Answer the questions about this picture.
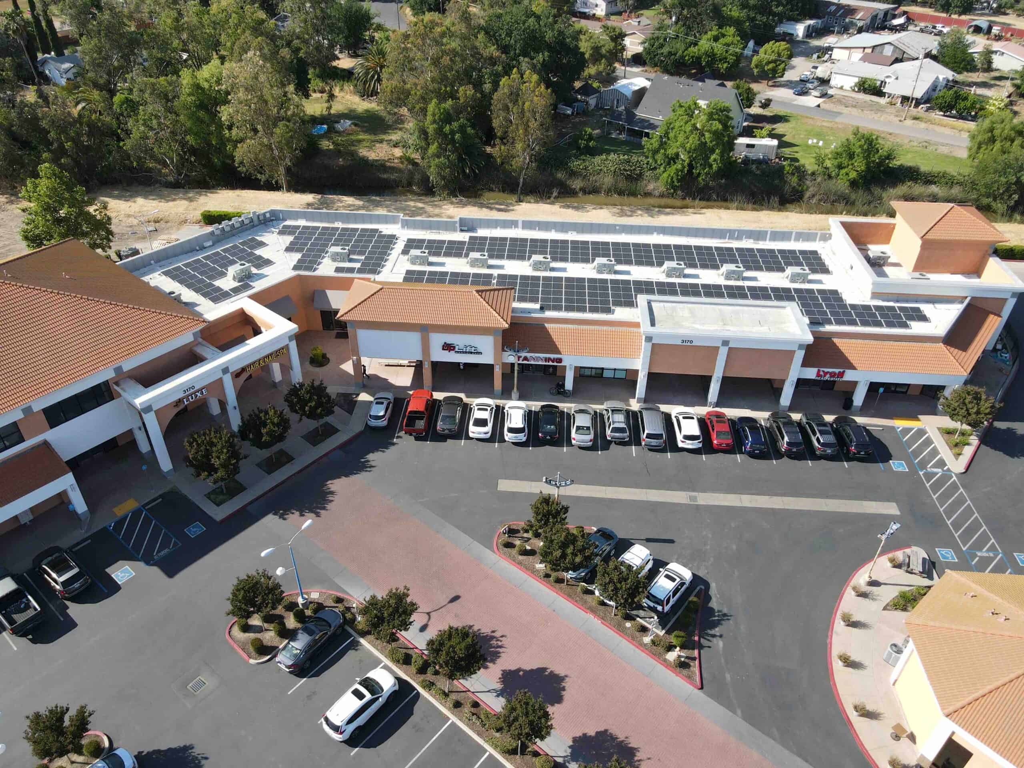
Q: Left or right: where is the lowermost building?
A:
right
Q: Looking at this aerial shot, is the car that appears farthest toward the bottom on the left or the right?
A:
left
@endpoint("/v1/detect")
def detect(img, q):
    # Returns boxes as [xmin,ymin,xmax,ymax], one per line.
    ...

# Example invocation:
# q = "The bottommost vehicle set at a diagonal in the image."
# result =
[320,670,403,748]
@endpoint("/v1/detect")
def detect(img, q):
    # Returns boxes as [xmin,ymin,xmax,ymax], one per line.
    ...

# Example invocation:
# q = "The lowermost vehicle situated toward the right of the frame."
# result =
[641,561,701,623]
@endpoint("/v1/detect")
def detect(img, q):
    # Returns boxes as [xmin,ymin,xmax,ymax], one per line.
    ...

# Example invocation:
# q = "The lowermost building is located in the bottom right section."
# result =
[884,570,1024,768]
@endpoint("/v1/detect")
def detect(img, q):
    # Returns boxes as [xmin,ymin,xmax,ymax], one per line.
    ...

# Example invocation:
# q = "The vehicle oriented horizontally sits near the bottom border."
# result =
[74,741,137,768]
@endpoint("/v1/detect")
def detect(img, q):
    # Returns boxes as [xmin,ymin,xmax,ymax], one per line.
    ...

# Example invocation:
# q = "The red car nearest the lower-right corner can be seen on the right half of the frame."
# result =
[705,410,735,451]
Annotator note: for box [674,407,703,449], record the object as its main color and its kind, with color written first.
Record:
white car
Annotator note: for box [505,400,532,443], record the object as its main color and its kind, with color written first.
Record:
white car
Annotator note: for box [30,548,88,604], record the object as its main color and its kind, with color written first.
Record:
black car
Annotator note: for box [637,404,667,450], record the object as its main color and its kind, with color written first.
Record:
gray car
